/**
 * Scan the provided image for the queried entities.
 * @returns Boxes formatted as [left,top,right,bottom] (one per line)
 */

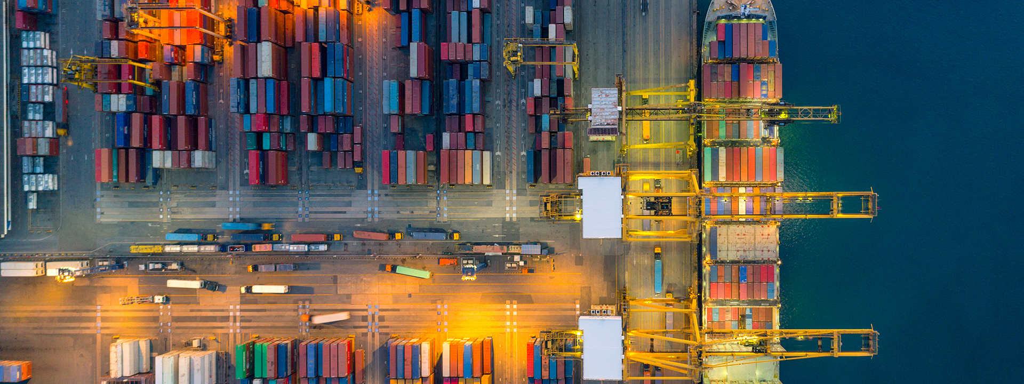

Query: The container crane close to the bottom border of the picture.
[540,277,880,384]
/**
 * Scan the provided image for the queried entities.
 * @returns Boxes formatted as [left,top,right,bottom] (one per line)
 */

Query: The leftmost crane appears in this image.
[61,53,159,95]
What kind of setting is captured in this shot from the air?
port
